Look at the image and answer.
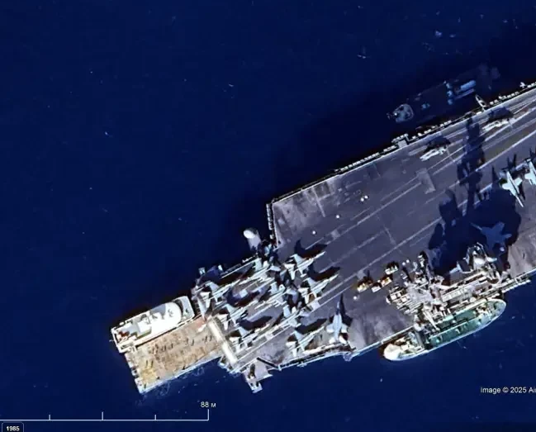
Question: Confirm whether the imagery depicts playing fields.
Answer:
No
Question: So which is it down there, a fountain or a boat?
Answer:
boat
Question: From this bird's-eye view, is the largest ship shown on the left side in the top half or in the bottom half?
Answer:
bottom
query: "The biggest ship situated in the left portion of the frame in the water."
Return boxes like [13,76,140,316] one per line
[125,317,219,394]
